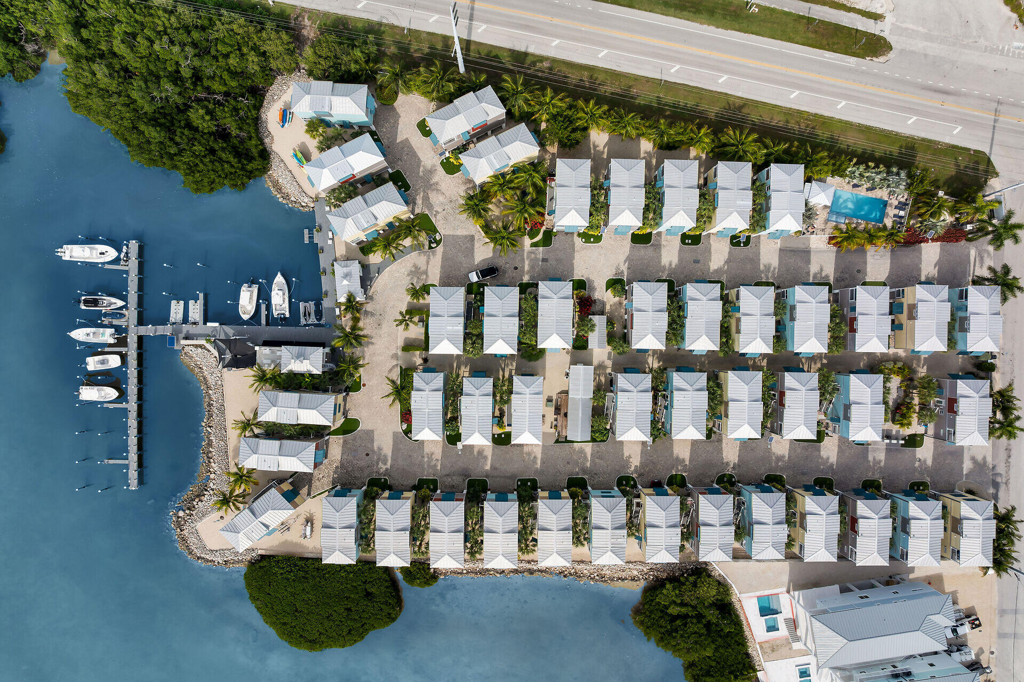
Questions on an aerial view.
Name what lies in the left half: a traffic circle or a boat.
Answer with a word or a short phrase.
boat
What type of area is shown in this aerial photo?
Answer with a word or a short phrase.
residential area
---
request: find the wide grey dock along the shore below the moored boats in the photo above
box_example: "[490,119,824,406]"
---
[174,326,342,349]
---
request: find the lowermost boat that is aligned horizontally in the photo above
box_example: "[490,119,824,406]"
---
[77,386,122,401]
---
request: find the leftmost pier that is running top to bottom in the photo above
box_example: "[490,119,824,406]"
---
[128,241,143,489]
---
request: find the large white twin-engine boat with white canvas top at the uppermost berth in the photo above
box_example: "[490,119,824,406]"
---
[60,246,120,263]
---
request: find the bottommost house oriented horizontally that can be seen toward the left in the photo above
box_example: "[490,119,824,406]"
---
[237,433,328,473]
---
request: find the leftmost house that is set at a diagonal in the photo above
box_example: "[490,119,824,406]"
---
[220,478,308,553]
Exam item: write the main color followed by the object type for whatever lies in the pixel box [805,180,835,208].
white gazebo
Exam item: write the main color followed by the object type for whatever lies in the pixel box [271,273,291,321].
white boat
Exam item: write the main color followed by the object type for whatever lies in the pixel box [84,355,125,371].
white boat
